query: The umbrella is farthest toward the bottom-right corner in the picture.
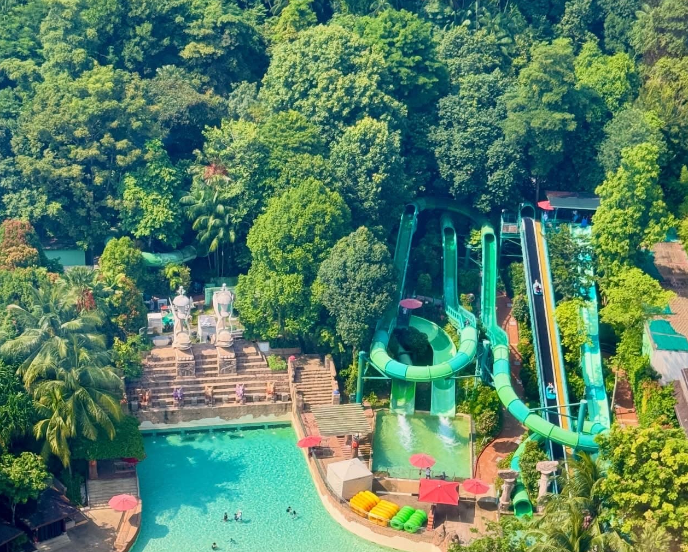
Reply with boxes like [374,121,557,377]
[463,479,489,507]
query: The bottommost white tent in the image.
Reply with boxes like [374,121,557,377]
[329,458,373,501]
